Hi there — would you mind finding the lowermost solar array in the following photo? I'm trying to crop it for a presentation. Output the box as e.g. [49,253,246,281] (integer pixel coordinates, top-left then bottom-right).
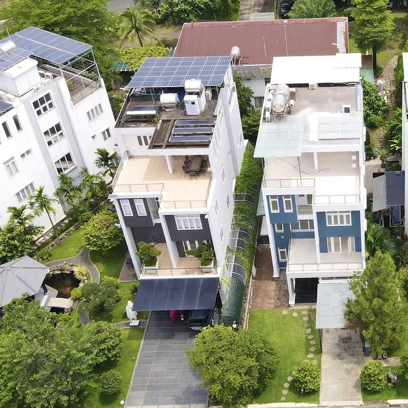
[124,54,228,105]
